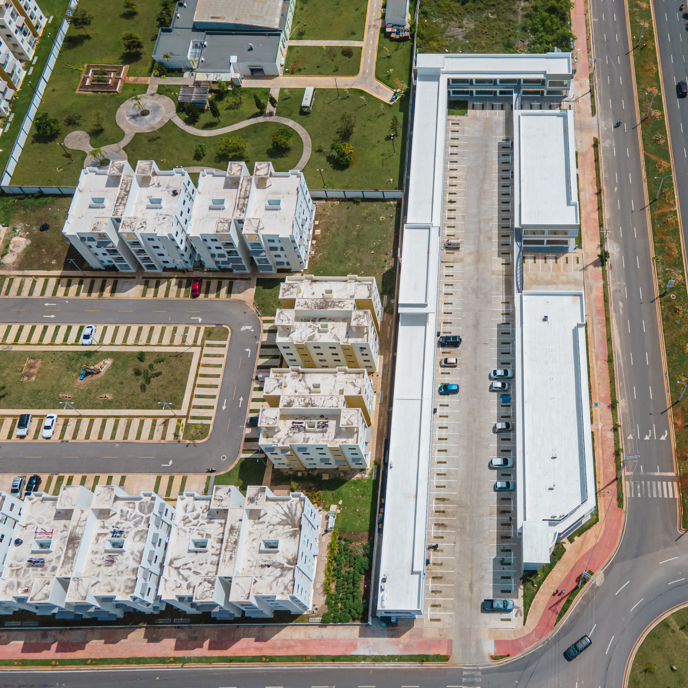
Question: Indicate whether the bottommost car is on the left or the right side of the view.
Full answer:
The bottommost car is on the right side of the image.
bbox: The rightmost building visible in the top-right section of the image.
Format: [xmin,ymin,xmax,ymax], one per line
[512,108,581,244]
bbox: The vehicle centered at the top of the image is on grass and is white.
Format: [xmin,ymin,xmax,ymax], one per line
[300,84,317,113]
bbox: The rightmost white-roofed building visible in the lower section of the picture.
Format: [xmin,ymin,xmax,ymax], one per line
[513,289,597,564]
